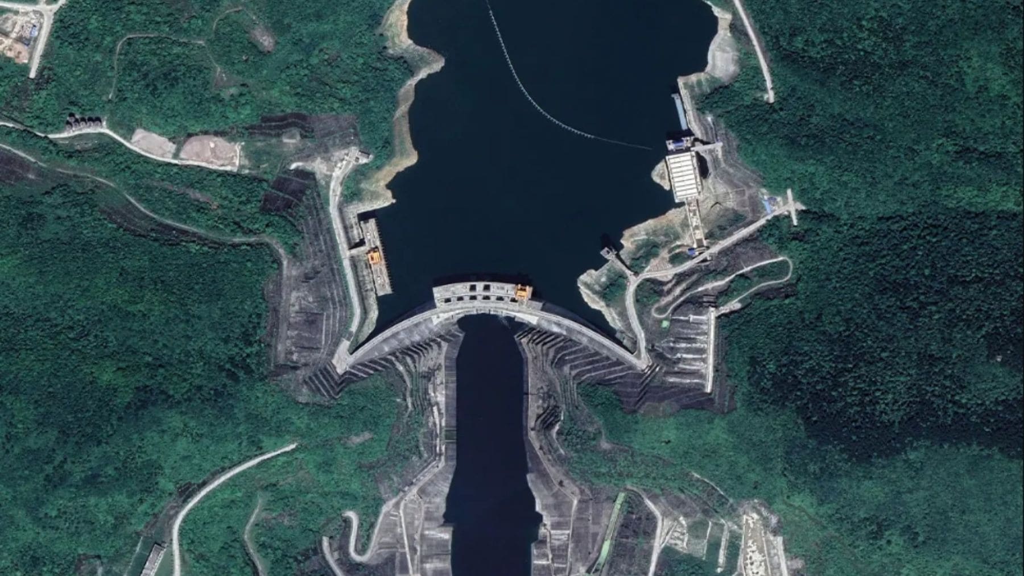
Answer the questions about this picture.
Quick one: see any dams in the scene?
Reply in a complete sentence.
Yes, there's a dam here.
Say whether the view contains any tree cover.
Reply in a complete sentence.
Yes, some tree cover is visible.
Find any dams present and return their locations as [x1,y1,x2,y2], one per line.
[343,282,645,373]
